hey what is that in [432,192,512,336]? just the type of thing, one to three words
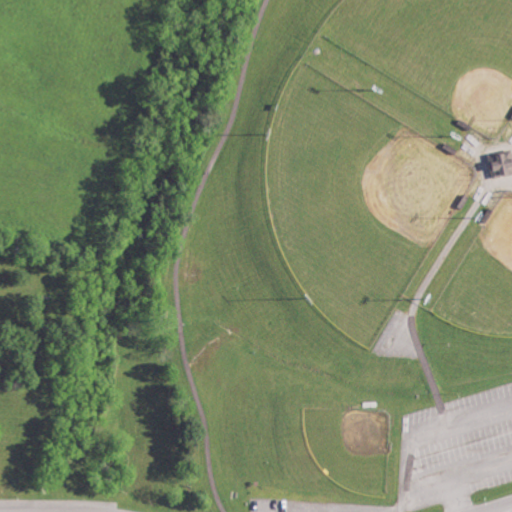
baseball field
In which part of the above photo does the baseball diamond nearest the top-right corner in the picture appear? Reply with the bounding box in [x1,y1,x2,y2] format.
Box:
[320,0,512,142]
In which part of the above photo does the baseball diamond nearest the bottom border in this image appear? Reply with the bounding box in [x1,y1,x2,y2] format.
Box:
[304,408,390,498]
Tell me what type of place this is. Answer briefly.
sports ground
